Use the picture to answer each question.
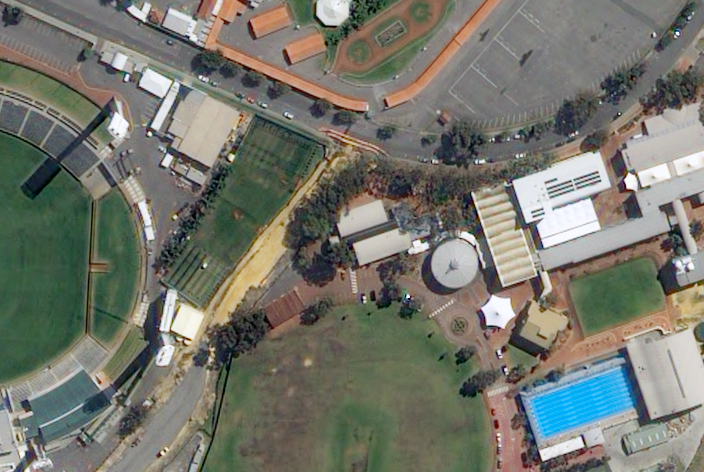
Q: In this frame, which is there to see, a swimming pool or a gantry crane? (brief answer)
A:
swimming pool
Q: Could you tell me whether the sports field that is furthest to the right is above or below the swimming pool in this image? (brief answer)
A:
above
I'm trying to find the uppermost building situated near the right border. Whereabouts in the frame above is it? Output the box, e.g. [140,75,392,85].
[634,97,704,143]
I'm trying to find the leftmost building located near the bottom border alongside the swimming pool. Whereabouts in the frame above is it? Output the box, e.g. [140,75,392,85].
[538,436,586,461]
